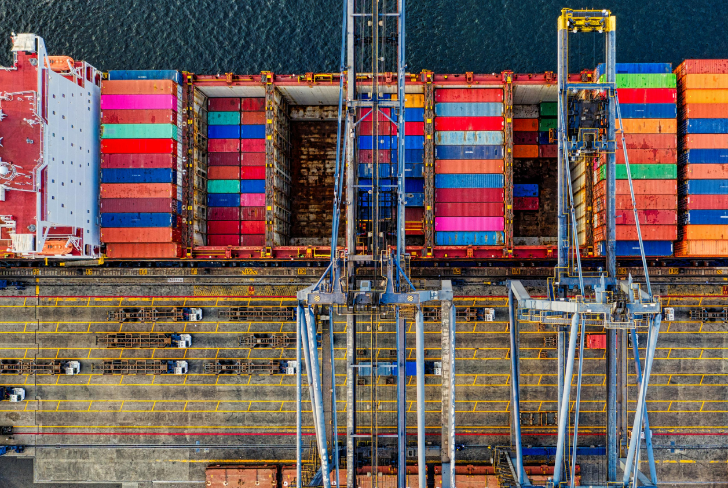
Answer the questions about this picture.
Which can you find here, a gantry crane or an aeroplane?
gantry crane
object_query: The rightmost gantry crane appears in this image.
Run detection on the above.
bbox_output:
[479,1,662,488]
